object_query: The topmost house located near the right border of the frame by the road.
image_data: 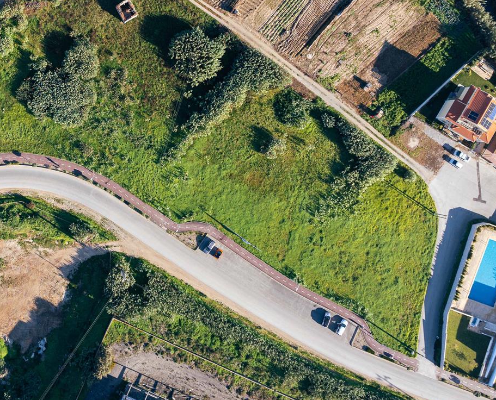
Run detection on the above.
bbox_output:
[431,85,496,143]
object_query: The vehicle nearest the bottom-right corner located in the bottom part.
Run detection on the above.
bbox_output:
[336,318,348,336]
